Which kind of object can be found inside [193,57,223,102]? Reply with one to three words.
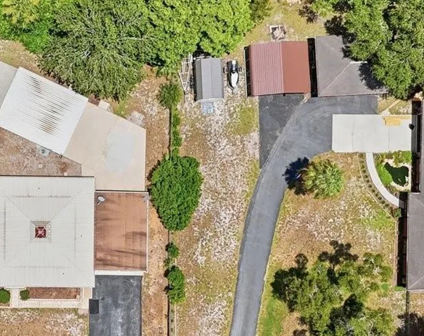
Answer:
shed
